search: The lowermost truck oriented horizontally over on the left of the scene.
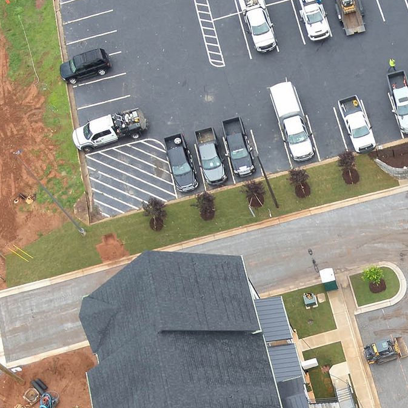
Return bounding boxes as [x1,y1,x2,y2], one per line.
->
[73,109,152,150]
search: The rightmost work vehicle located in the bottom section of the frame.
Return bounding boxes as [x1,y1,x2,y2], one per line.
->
[366,335,408,364]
